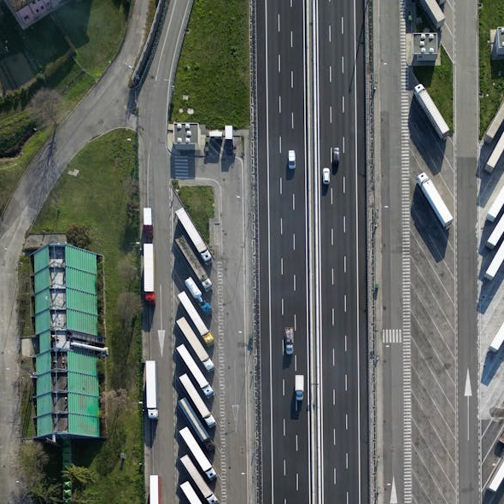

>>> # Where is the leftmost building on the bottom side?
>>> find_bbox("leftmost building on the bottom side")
[33,243,106,440]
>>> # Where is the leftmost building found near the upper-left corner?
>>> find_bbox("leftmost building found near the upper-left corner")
[5,0,75,33]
